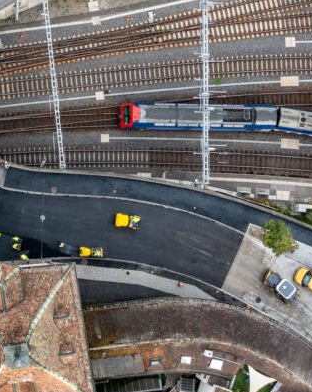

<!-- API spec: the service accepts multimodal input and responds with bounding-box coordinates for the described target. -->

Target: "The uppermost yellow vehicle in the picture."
[113,214,141,228]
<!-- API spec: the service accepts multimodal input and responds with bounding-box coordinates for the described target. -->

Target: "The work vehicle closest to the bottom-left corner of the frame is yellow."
[78,245,103,258]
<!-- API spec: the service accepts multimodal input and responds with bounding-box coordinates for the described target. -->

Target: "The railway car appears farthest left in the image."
[113,104,273,135]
